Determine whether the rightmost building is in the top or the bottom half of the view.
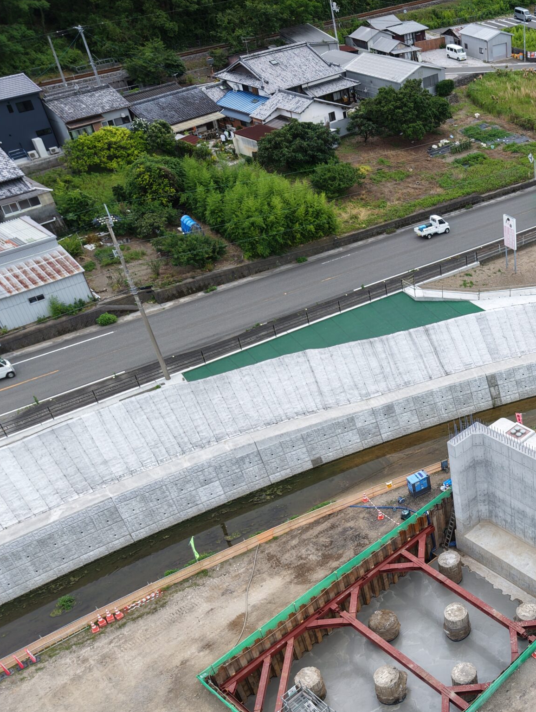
top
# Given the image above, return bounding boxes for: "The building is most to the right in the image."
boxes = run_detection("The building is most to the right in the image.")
[457,22,516,64]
